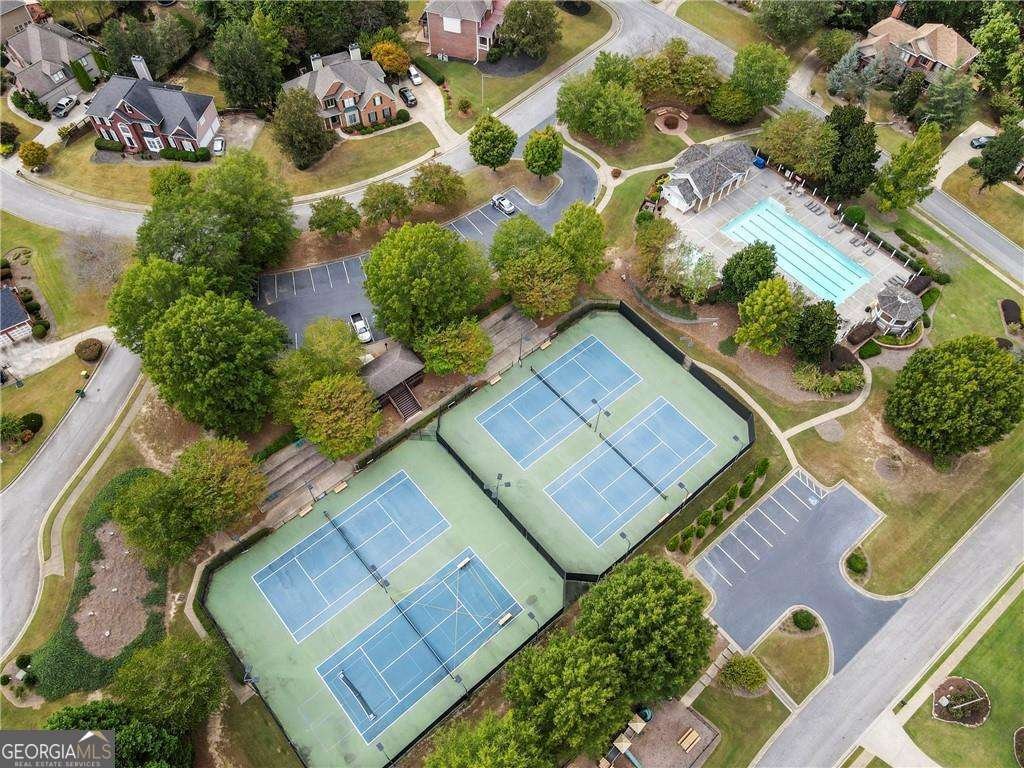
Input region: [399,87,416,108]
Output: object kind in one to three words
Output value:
car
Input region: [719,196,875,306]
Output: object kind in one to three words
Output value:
swimming pool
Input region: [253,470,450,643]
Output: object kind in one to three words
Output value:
tennis court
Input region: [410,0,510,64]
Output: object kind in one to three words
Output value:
house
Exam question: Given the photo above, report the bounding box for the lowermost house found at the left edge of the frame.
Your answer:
[0,279,34,345]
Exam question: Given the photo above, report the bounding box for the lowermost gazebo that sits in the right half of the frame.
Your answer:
[872,285,925,332]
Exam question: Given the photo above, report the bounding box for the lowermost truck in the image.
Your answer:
[346,312,372,345]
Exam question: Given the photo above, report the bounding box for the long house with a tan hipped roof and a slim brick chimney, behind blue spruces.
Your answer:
[852,0,975,85]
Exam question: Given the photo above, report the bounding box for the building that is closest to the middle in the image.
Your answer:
[348,341,425,426]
